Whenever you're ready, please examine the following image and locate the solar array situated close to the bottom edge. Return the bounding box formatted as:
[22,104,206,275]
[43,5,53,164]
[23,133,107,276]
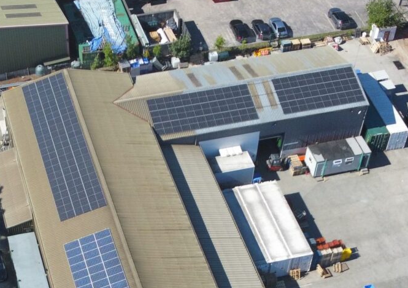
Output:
[63,227,130,288]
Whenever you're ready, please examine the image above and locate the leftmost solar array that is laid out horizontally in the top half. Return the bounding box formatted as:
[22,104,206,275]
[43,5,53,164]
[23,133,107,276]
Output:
[153,84,262,138]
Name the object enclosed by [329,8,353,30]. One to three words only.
car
